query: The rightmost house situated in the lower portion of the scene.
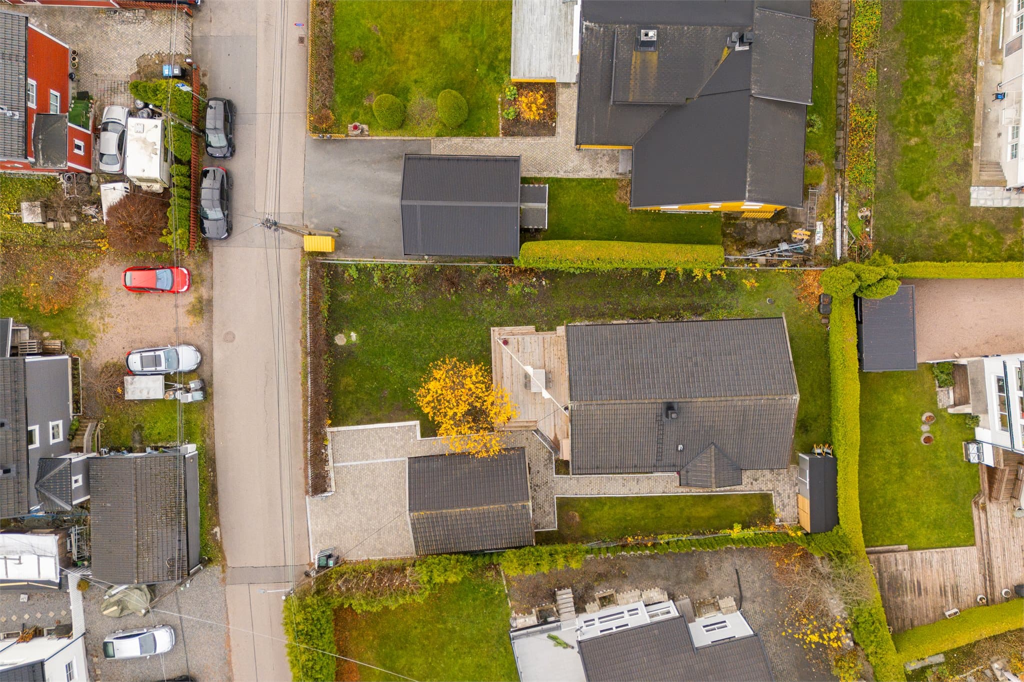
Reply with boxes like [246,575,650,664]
[962,351,1024,468]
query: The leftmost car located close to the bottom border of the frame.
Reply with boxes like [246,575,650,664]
[101,620,179,662]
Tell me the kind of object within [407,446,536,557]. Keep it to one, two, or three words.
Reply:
building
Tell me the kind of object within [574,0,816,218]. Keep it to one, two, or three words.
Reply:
house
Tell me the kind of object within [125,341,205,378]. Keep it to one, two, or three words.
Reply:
car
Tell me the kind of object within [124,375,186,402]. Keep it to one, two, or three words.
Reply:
trailer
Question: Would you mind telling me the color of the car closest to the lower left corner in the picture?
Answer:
white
